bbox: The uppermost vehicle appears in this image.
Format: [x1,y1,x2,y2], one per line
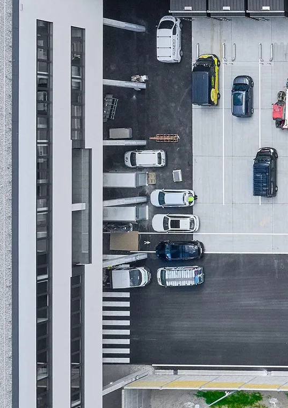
[157,17,185,64]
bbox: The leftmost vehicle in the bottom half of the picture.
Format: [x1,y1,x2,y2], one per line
[104,266,154,288]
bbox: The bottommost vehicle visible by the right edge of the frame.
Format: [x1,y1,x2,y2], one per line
[252,148,280,199]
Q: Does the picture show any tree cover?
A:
No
